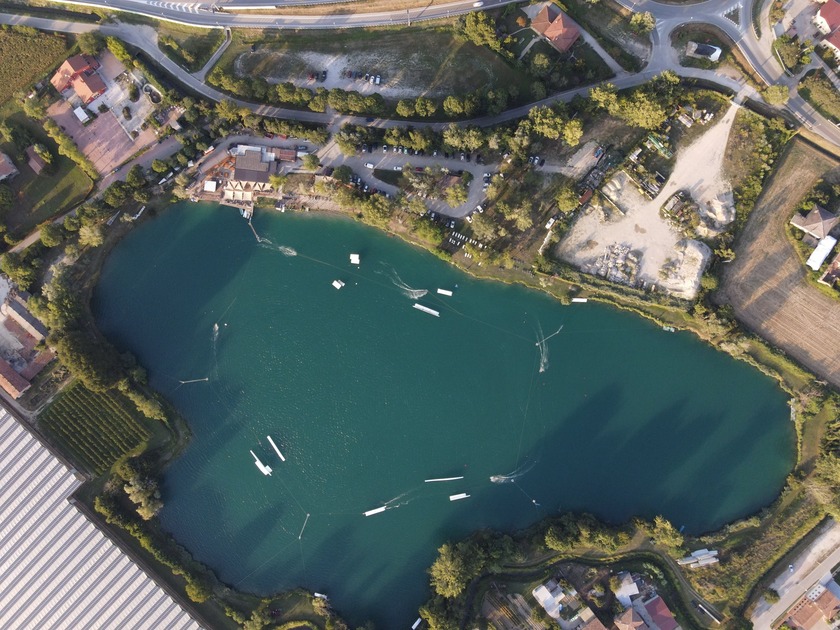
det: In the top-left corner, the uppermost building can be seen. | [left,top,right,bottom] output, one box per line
[48,48,107,103]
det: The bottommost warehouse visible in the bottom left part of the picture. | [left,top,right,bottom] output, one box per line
[0,386,220,630]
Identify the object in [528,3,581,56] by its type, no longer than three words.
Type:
house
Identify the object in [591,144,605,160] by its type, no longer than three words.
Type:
vehicle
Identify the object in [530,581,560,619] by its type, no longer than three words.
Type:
house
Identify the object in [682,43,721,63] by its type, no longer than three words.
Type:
building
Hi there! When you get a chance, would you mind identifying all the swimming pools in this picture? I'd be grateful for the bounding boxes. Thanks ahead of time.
[143,84,162,103]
